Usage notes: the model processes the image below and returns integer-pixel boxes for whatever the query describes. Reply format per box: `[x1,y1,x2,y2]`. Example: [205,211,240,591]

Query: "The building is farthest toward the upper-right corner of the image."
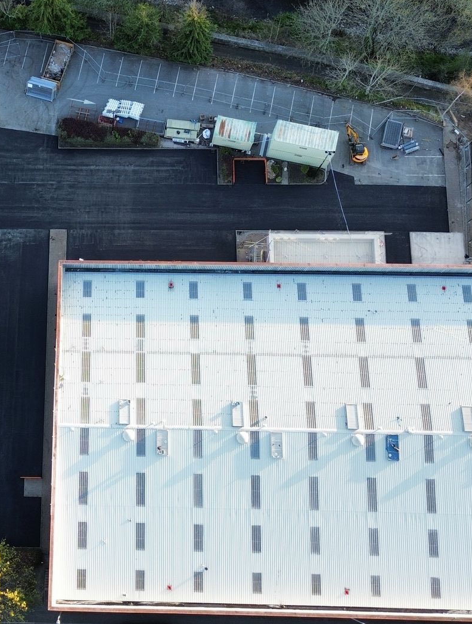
[267,119,339,166]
